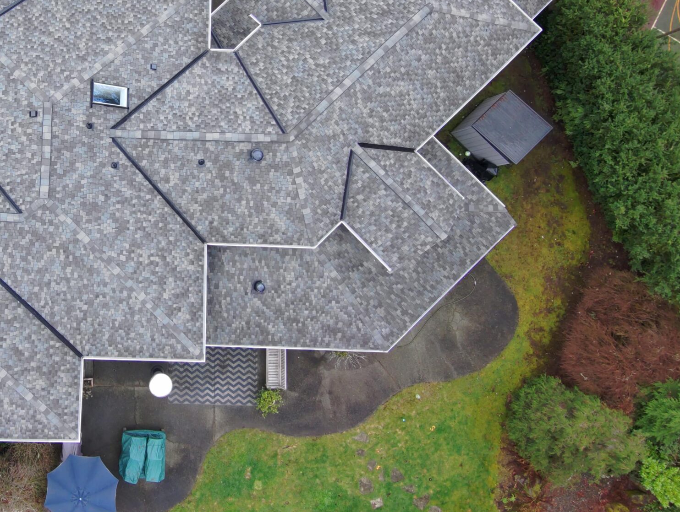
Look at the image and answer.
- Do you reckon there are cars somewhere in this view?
No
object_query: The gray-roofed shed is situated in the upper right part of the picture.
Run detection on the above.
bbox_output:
[450,89,554,165]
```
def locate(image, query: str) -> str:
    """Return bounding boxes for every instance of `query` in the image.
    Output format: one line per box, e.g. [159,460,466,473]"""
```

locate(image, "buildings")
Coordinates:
[0,0,555,444]
[450,89,554,165]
